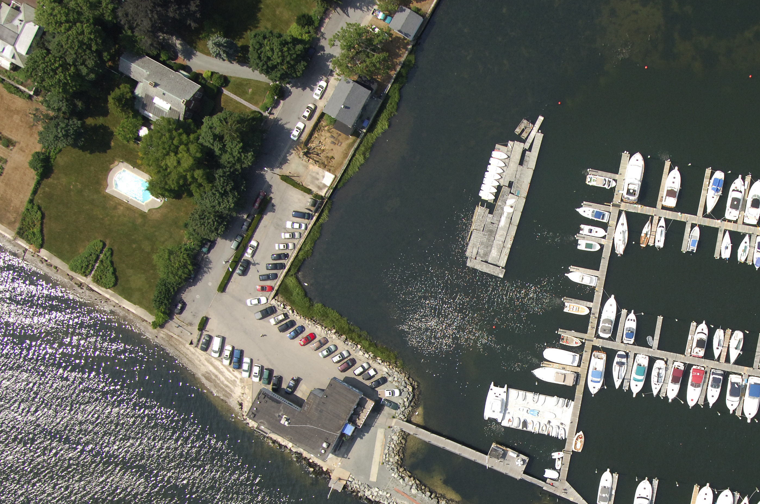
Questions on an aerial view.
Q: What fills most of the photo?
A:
water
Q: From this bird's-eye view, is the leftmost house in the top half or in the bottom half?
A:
top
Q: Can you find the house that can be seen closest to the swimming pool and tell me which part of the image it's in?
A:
top left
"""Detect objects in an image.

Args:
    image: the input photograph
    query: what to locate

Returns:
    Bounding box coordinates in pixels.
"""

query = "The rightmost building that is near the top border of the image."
[389,7,423,40]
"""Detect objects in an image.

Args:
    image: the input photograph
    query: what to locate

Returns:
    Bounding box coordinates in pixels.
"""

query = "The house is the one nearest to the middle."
[323,79,382,138]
